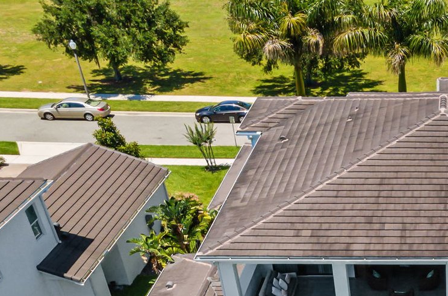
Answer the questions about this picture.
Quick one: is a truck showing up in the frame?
No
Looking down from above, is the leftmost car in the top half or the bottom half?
top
